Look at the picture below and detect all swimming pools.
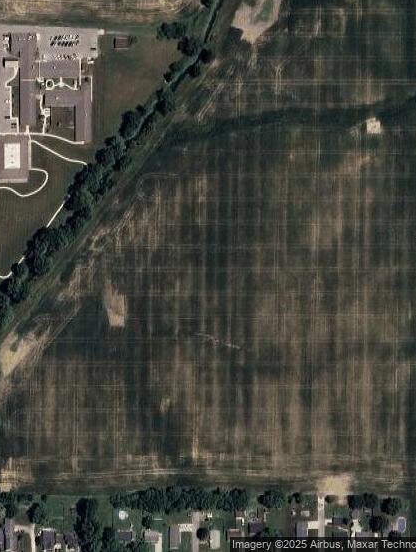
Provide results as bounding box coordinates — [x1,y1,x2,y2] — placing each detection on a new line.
[395,516,406,532]
[117,510,127,520]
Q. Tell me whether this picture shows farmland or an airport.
farmland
